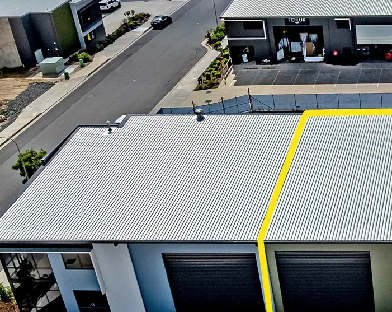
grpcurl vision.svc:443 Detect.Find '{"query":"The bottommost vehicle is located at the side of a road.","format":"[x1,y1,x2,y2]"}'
[152,12,179,26]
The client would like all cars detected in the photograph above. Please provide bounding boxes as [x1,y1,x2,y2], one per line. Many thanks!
[152,12,179,26]
[101,0,126,12]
